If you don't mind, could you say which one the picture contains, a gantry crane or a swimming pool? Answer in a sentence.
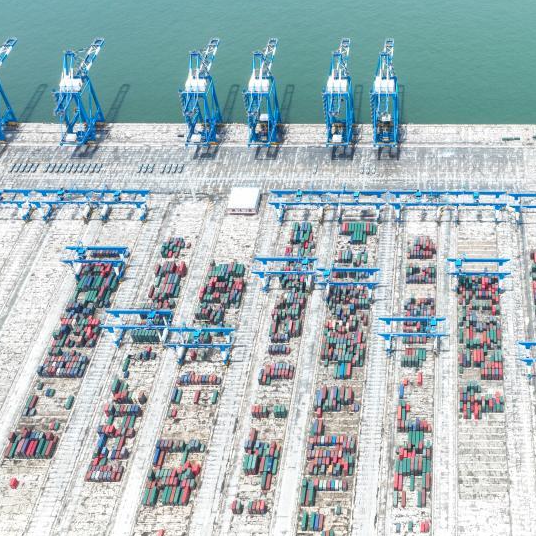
I can see a gantry crane in this picture.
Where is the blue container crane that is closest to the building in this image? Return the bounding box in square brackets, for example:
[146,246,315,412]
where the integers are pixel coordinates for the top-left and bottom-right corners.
[271,188,333,224]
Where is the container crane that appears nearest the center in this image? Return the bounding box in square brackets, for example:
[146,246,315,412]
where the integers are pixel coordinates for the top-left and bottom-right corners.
[254,254,322,295]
